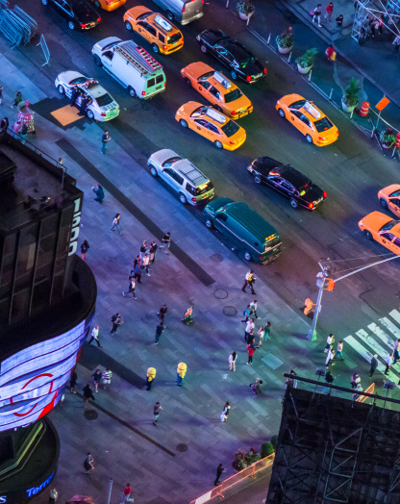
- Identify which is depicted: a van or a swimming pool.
van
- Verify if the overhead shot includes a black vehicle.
Yes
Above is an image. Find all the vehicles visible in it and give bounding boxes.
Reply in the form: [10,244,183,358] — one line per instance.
[245,158,331,219]
[88,37,171,105]
[144,151,221,214]
[192,30,273,89]
[374,186,400,227]
[38,0,107,40]
[170,104,252,158]
[51,71,125,129]
[355,216,400,267]
[120,7,187,59]
[269,96,345,152]
[178,64,257,125]
[152,0,206,22]
[201,198,289,271]
[83,0,130,18]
